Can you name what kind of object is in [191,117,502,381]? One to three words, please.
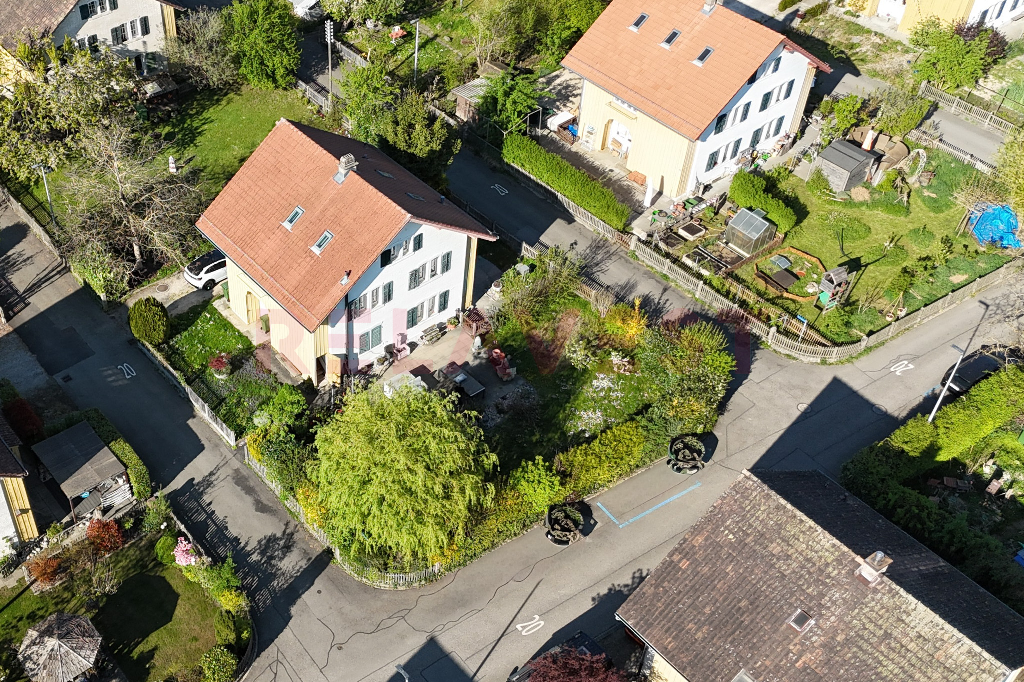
house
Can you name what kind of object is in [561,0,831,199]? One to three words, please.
house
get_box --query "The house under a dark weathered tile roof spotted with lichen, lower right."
[617,465,1024,682]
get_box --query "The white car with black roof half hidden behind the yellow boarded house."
[186,250,224,289]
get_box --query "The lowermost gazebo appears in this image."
[1,607,108,682]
